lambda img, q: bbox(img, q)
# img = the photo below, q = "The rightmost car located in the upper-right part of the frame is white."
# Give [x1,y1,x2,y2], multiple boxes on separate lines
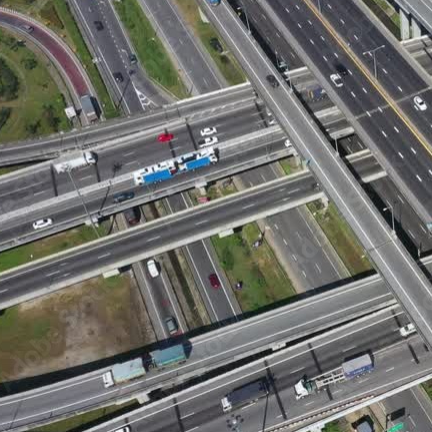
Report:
[412,97,426,110]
